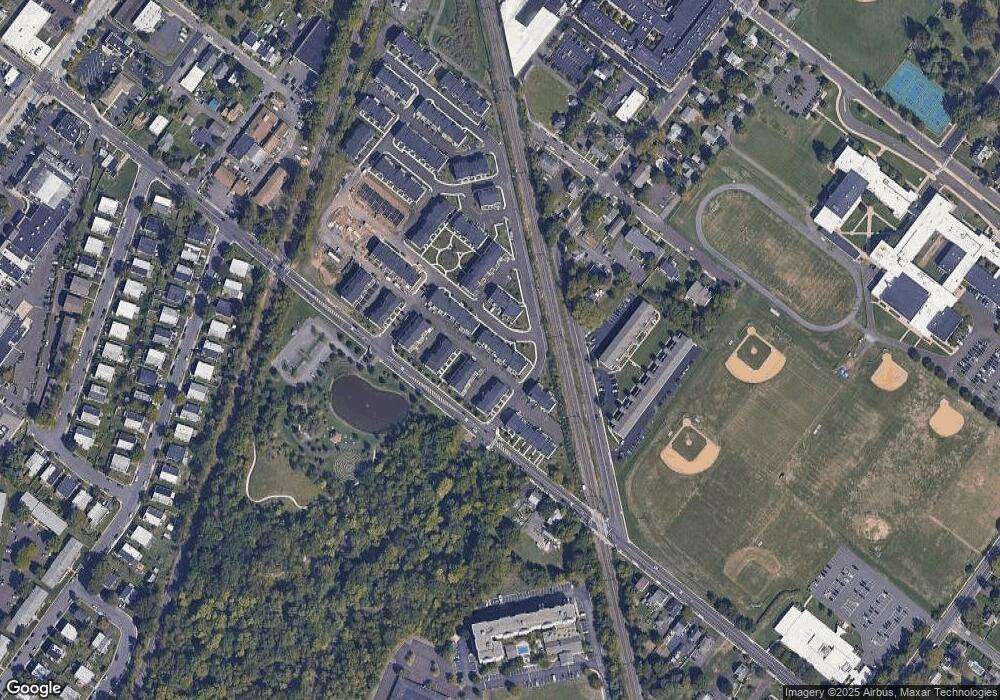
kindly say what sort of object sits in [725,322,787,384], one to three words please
baseball field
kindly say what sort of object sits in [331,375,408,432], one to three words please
pond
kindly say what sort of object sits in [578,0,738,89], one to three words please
building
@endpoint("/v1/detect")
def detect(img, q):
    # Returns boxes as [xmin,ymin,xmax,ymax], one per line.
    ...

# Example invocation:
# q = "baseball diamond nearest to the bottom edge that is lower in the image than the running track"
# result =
[724,546,782,608]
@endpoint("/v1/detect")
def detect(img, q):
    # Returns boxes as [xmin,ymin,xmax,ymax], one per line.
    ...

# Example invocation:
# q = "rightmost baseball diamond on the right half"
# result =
[929,398,965,437]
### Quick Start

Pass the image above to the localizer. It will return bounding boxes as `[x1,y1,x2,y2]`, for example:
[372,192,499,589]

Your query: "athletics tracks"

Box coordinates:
[696,185,863,330]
